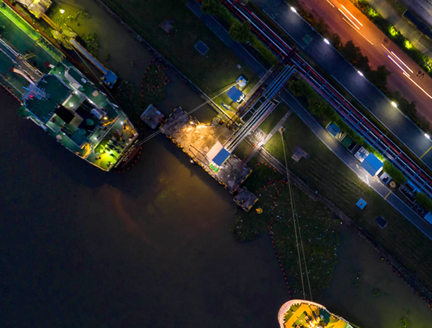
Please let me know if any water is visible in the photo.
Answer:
Yes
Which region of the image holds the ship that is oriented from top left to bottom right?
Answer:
top left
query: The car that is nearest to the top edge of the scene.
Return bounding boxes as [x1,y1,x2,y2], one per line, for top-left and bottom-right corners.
[343,8,359,24]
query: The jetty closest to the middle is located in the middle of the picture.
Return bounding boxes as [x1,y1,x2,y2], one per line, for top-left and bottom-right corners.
[162,105,254,194]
